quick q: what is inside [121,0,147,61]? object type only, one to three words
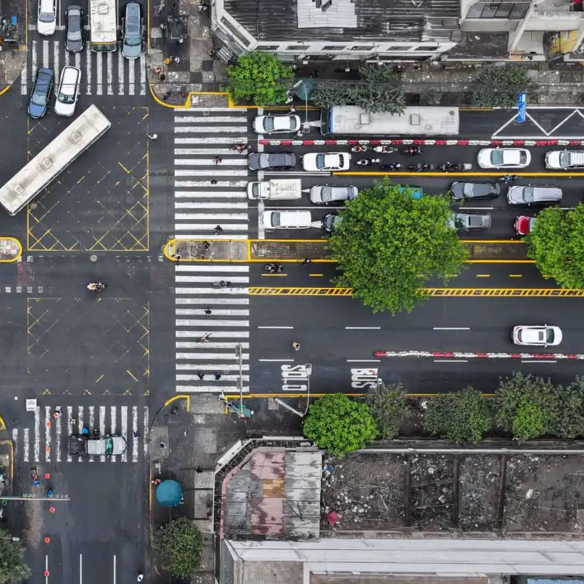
car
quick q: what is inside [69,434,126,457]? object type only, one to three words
truck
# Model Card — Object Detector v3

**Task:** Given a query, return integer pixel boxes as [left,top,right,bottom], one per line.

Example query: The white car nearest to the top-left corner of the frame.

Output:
[36,0,59,36]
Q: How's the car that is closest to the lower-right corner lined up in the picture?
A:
from side to side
